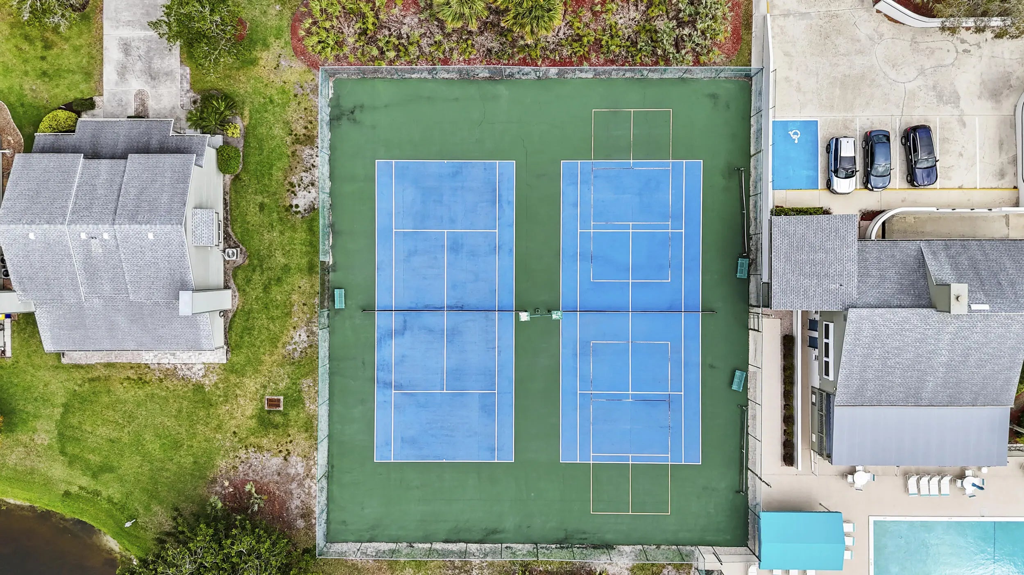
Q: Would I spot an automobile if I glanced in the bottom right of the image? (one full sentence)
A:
No, there's no automobile to be seen in the bottom right of the image.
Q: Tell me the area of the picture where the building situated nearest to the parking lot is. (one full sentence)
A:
The building situated nearest to the parking lot sits in the right section of the image.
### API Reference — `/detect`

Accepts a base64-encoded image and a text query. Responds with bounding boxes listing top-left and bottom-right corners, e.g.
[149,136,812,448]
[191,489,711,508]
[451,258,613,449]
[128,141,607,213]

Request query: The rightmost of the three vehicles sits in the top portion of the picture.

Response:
[901,128,939,192]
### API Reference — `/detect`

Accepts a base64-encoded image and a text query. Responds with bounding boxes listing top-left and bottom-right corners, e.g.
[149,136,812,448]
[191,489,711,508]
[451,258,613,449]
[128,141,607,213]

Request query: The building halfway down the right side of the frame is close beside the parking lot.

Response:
[763,214,1024,475]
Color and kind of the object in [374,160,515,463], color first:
blue tennis court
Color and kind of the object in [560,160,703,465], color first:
blue tennis court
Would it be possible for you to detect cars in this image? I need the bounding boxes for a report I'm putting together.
[825,135,858,195]
[901,128,939,192]
[860,129,893,192]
